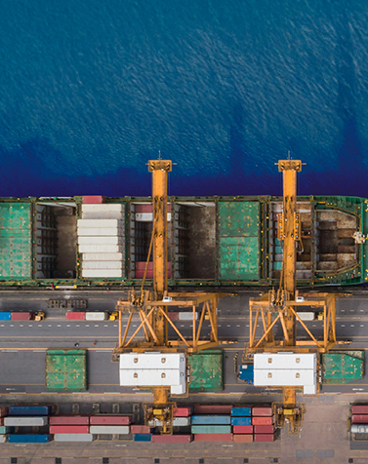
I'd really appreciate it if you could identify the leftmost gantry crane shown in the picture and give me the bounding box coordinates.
[109,152,237,433]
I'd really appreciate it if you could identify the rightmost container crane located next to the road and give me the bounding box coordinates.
[239,152,358,433]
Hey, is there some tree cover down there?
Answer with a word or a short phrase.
No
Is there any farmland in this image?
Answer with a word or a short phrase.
No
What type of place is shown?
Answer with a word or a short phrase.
port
